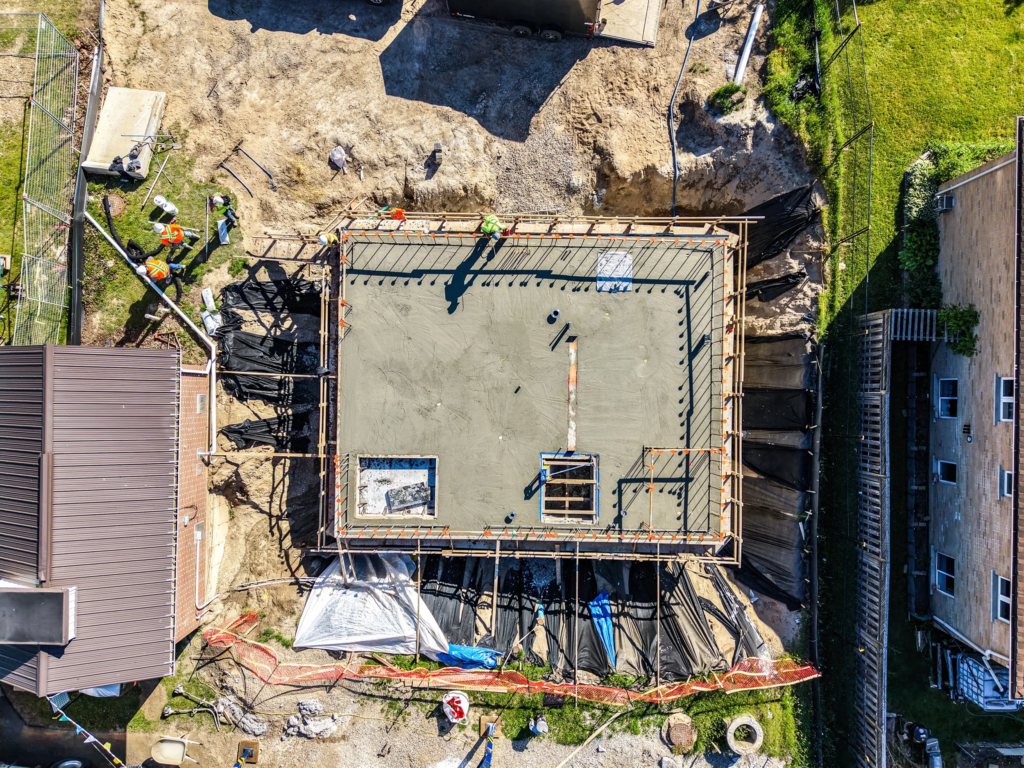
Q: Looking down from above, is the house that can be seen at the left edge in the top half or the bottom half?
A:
bottom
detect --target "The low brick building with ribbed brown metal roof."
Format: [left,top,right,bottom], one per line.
[0,346,236,706]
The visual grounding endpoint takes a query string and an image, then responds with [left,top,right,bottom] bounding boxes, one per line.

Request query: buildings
[929,114,1024,702]
[0,346,236,706]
